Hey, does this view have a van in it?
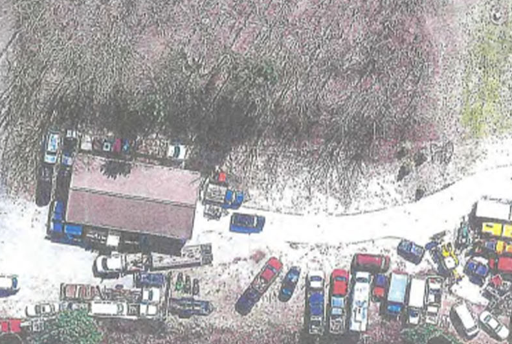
Yes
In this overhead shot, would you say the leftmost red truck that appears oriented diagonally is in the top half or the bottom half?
bottom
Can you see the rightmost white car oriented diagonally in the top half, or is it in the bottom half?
bottom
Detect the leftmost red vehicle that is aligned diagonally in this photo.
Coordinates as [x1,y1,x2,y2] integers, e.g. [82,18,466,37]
[249,259,281,298]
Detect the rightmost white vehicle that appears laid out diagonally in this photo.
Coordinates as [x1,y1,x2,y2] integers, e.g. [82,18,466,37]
[478,308,512,341]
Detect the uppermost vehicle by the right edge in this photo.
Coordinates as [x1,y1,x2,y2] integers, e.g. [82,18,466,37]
[474,198,512,222]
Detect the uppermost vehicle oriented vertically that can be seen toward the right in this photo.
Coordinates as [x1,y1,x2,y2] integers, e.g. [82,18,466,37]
[458,217,472,245]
